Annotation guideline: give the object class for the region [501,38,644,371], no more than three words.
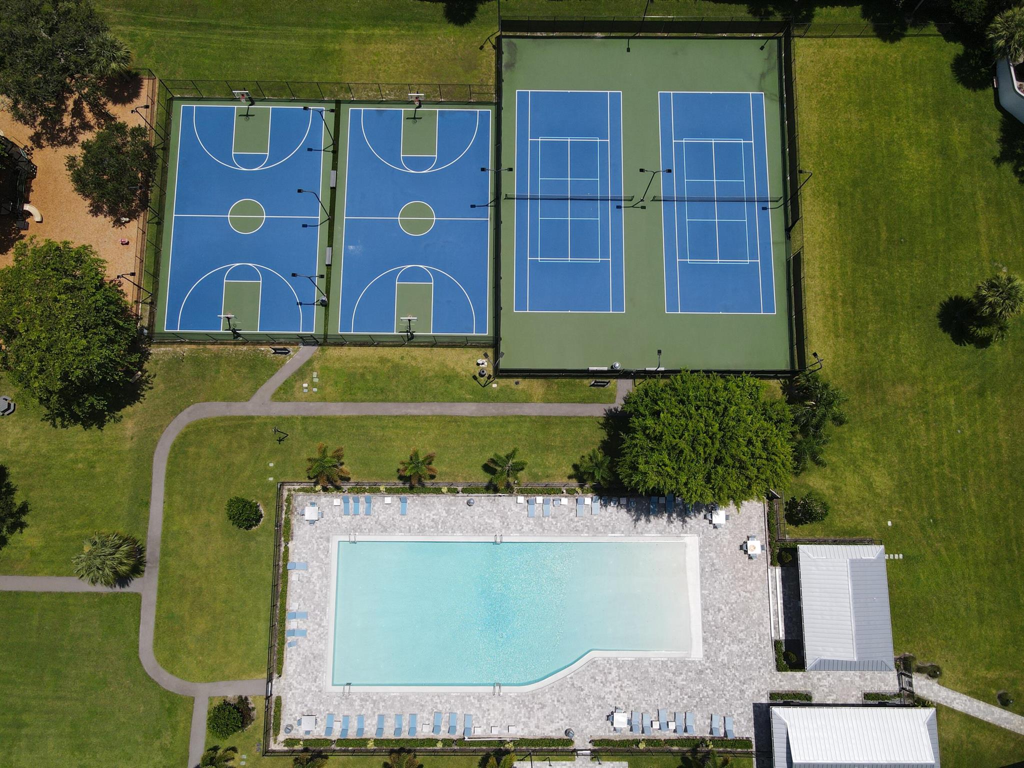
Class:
tennis court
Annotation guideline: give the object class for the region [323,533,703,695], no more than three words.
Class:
swimming pool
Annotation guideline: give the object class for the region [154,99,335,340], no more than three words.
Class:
basketball court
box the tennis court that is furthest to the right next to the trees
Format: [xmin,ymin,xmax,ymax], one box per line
[641,38,793,369]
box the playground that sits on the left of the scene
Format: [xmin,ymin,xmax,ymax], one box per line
[0,77,156,370]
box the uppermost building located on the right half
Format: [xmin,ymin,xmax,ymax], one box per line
[795,544,895,672]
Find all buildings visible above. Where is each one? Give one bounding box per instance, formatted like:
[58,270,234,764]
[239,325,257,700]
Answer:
[795,544,895,672]
[769,706,941,768]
